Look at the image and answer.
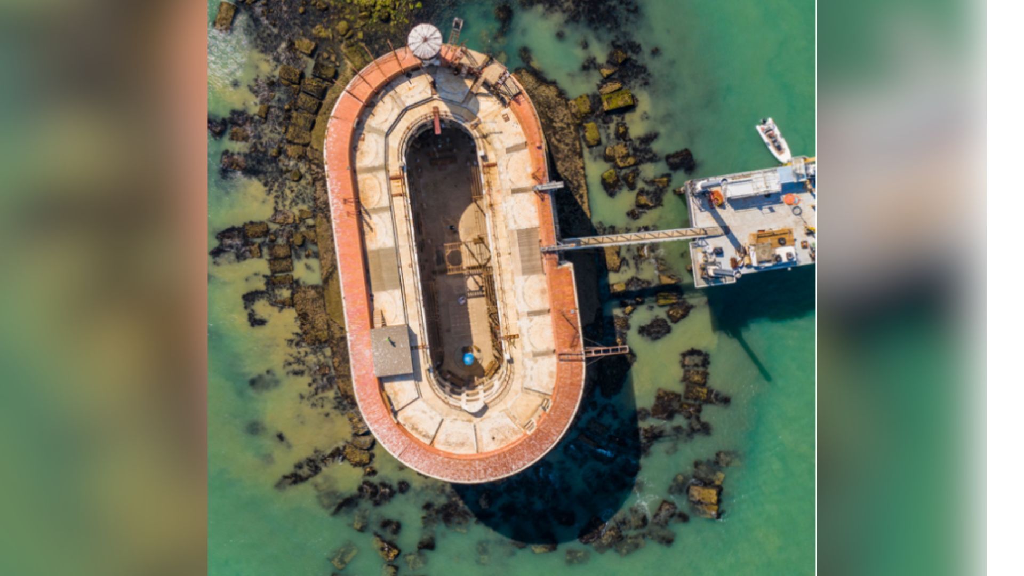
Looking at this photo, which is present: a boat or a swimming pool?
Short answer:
boat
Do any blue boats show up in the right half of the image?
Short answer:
No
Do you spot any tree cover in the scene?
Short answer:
No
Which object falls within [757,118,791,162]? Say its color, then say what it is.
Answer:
white boat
